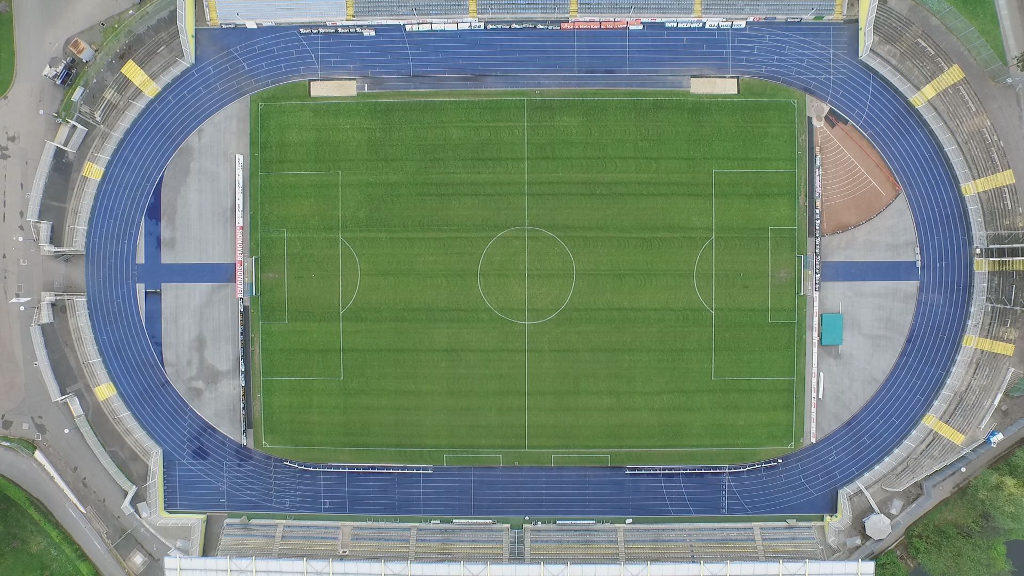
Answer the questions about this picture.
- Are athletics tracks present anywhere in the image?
Yes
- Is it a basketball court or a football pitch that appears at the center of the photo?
football pitch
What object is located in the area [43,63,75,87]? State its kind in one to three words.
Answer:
truck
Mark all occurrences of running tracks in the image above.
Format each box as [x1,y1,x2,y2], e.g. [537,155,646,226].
[85,20,973,516]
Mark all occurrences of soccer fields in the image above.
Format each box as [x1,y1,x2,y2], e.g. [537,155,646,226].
[250,74,807,467]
